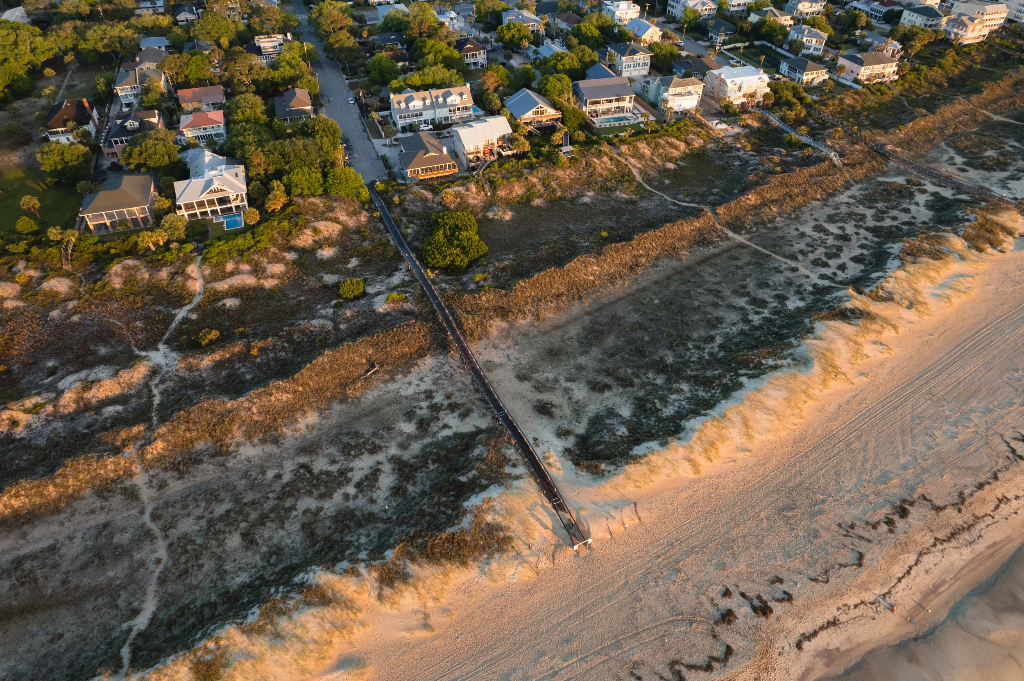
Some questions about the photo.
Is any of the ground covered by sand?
Yes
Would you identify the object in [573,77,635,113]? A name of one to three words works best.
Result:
house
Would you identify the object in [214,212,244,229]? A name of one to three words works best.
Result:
swimming pool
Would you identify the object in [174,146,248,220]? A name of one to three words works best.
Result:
house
